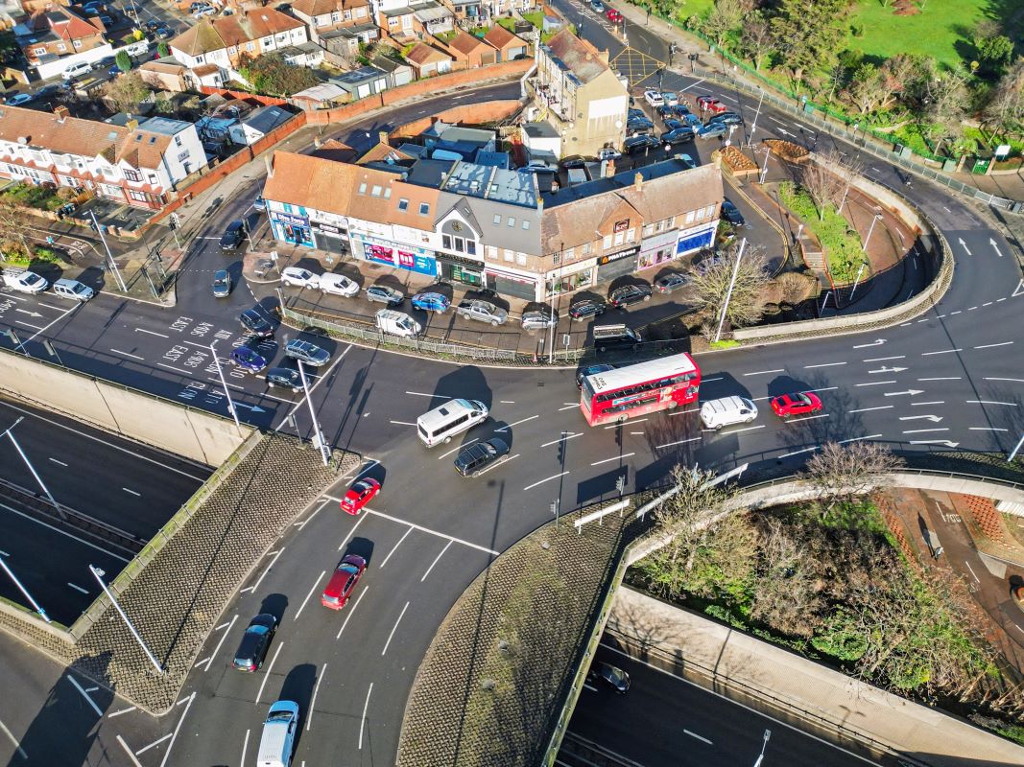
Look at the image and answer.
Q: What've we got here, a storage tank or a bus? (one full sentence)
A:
There is a bus in the scene.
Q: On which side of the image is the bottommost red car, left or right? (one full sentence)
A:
The bottommost red car appears in the left half of the scene.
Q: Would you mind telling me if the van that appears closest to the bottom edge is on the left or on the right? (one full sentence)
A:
The van that appears closest to the bottom edge sits on the left side.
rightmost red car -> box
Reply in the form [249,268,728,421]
[769,391,820,419]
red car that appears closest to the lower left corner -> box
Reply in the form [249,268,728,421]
[319,556,368,613]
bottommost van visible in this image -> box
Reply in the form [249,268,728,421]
[255,702,301,767]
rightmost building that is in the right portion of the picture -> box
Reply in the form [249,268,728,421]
[647,151,730,258]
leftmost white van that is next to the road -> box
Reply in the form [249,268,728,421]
[2,266,44,294]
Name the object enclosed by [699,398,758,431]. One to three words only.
van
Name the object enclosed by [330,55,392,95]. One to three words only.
building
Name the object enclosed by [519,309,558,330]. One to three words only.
car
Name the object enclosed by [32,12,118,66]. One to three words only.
house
